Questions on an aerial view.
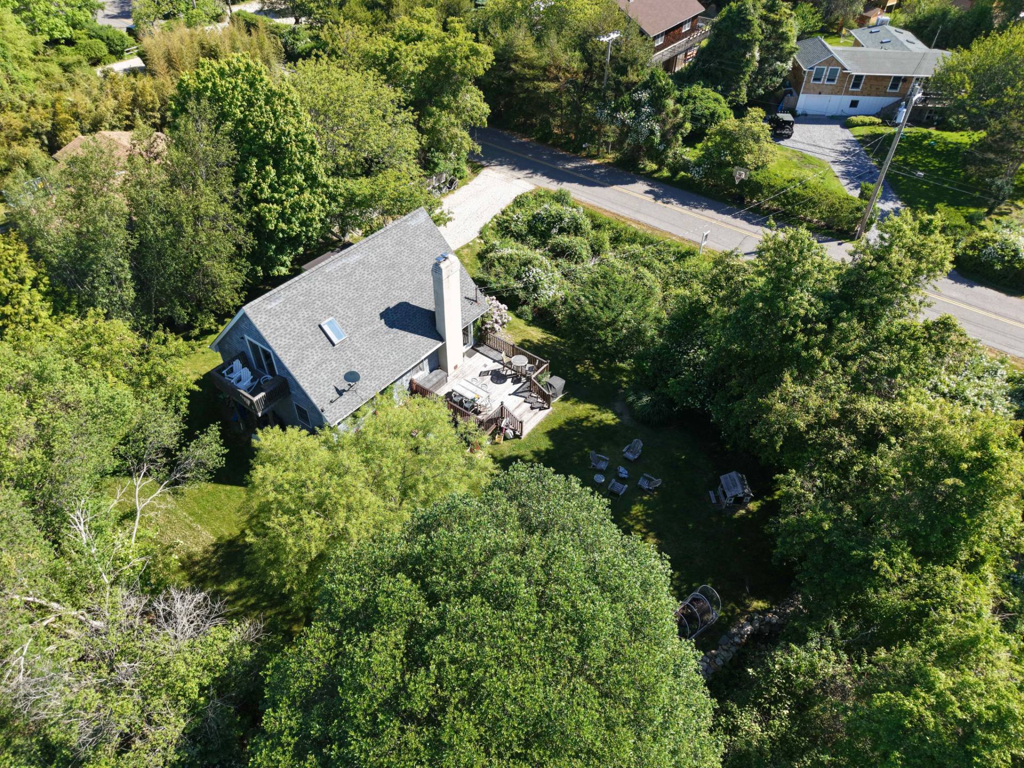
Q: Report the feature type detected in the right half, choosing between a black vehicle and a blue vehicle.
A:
black vehicle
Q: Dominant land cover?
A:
trees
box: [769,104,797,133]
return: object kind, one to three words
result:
car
